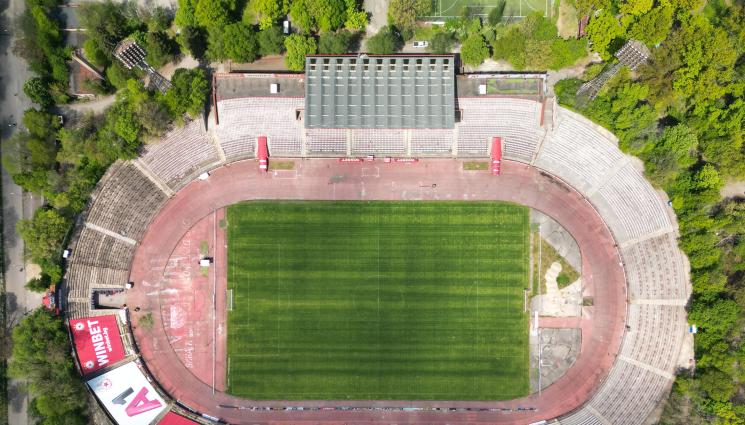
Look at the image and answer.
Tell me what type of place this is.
sports ground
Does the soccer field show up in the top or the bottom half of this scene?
bottom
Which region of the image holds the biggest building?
top left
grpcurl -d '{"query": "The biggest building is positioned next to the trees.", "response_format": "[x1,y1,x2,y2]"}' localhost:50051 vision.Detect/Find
[71,55,110,100]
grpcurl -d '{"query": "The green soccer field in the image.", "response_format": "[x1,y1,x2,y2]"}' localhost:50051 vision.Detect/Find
[227,200,530,403]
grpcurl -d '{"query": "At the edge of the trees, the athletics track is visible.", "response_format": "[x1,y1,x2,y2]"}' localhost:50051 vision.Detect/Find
[129,158,626,425]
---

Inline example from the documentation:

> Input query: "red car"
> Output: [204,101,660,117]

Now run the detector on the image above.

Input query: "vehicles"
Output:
[413,41,428,48]
[283,20,290,36]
